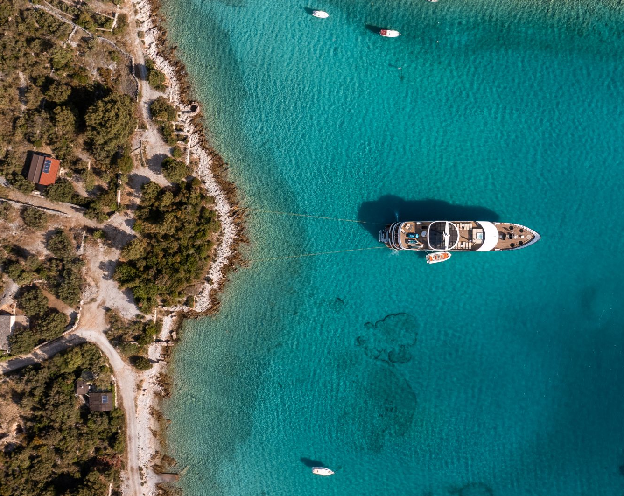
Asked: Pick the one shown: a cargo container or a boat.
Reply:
boat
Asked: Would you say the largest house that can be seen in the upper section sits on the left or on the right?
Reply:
left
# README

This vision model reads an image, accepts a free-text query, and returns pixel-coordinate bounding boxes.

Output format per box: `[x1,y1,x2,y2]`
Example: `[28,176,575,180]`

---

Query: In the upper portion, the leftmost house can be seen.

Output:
[28,154,63,186]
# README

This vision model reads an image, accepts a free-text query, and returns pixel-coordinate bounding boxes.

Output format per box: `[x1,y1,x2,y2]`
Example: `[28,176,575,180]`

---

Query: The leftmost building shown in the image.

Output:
[0,315,15,350]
